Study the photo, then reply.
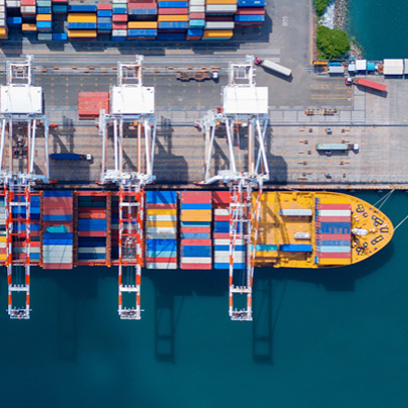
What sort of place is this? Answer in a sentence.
This image shows a port.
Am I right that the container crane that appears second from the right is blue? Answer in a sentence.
No, the color of the container crane that appears second from the right is white.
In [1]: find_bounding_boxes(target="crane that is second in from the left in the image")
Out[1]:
[90,53,161,320]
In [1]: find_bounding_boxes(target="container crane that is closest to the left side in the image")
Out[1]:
[0,52,63,320]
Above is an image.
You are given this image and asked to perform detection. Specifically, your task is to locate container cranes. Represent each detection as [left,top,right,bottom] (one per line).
[0,52,63,320]
[187,54,272,321]
[90,53,161,320]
